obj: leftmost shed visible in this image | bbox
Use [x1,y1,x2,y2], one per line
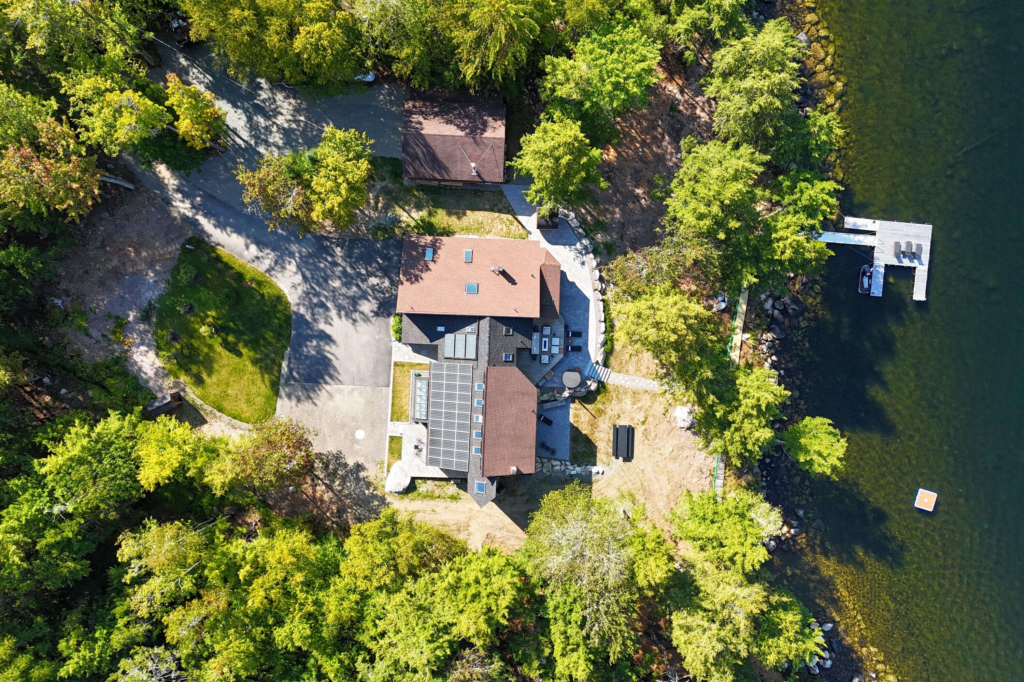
[147,390,193,417]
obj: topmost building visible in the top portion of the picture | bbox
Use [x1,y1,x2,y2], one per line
[402,89,506,185]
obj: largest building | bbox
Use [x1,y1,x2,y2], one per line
[396,236,561,508]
